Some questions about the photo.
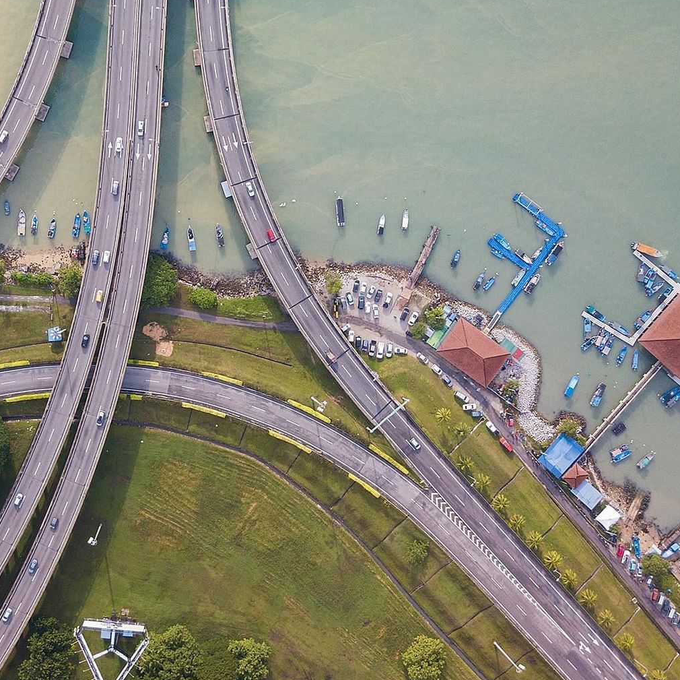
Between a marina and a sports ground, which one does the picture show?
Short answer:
marina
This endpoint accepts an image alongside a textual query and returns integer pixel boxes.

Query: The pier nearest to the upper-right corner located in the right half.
[489,194,567,314]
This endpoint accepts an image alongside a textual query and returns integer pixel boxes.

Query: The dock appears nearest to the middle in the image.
[408,226,439,286]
